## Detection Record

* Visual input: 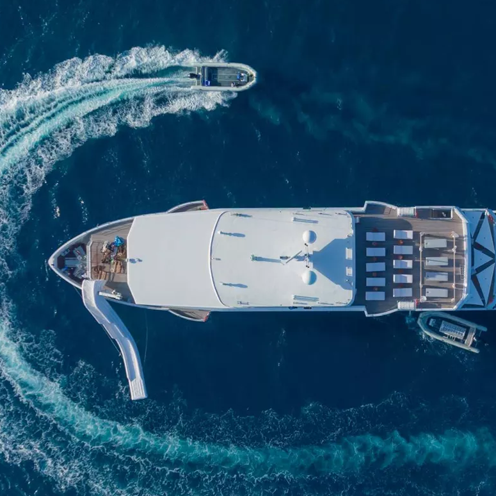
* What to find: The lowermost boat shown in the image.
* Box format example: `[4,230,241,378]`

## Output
[418,312,488,353]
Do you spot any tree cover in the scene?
No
